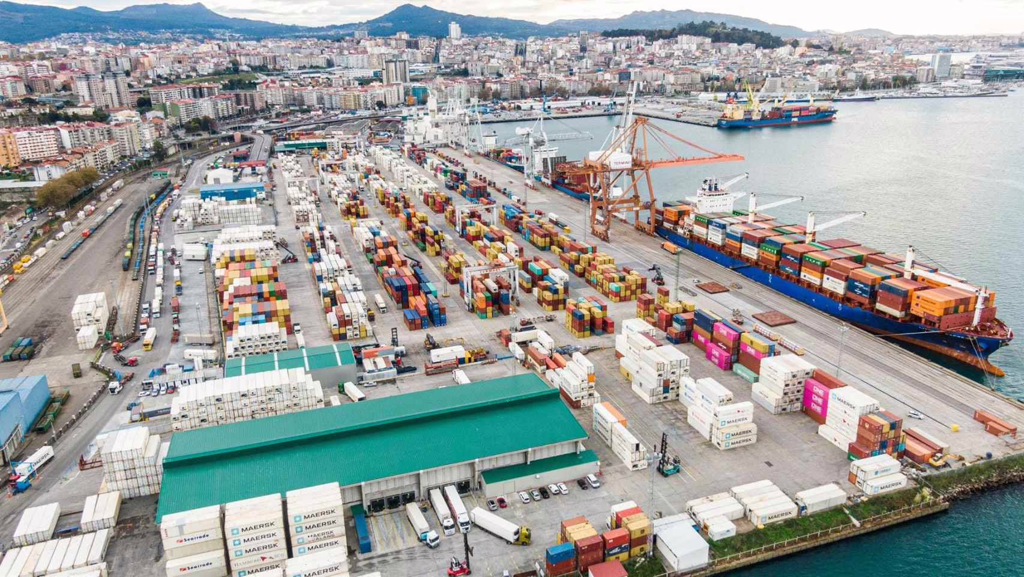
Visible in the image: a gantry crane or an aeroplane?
gantry crane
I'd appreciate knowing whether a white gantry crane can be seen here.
Yes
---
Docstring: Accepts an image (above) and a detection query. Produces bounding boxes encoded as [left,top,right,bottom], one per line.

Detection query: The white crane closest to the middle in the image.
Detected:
[462,252,524,312]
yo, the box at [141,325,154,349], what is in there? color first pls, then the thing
white vehicle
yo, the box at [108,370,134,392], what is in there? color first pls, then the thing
white truck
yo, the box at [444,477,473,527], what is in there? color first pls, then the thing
white truck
